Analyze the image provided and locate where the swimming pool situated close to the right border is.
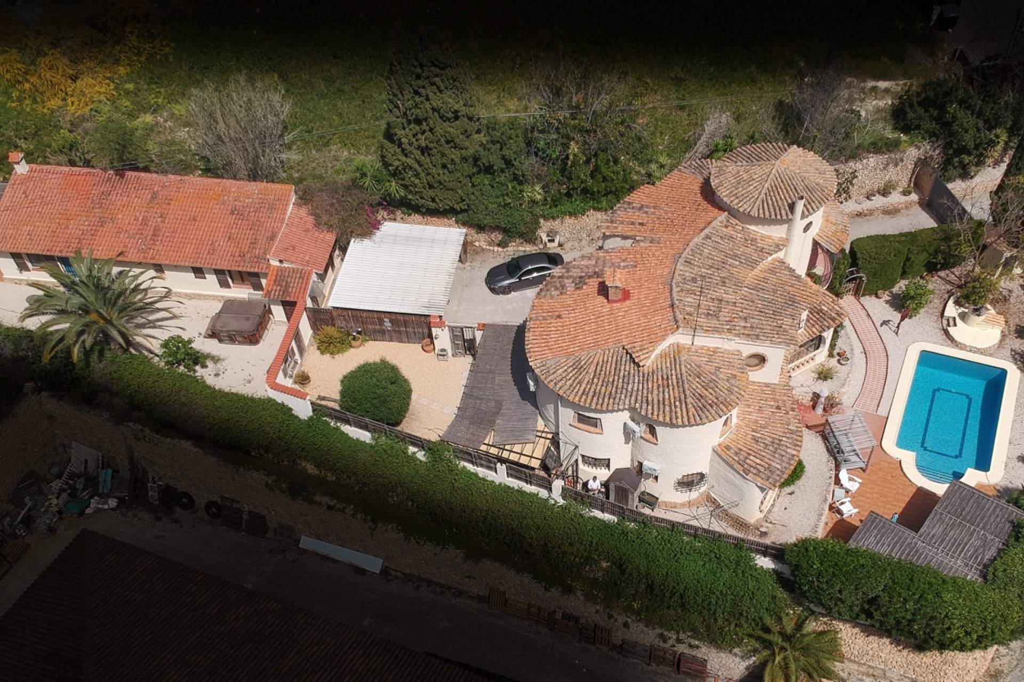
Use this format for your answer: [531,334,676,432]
[883,342,1019,494]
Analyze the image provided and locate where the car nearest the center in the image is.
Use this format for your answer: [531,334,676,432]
[479,248,567,299]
